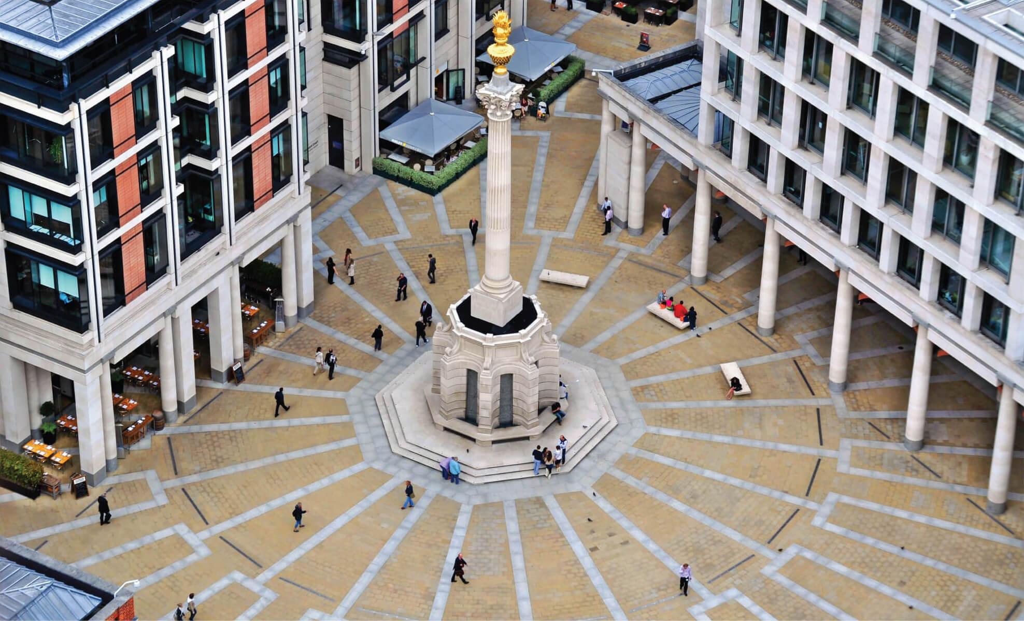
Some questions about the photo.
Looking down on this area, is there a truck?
No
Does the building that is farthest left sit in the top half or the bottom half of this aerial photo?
bottom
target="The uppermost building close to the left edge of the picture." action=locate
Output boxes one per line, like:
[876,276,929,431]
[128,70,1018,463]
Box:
[0,0,313,476]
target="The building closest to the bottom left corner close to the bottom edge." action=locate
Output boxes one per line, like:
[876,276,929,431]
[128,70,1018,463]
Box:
[0,539,133,621]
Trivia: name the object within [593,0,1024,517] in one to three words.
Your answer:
building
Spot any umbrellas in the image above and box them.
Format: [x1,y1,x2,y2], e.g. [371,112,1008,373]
[377,100,486,165]
[506,26,582,96]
